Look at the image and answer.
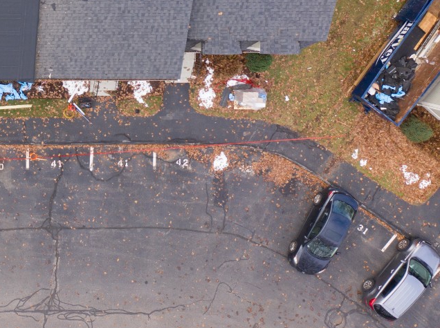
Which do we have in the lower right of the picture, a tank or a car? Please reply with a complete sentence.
Looking in the lower right of the picture, you will find a car.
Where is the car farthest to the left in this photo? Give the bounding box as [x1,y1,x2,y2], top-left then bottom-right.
[286,183,356,275]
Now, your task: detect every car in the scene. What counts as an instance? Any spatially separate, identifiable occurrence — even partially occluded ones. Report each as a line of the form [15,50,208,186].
[356,232,439,325]
[286,183,356,275]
